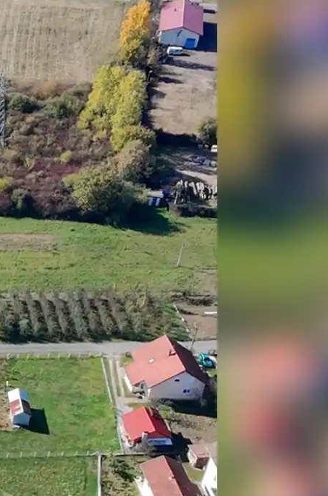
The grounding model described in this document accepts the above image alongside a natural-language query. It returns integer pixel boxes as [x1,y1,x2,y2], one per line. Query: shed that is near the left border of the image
[5,391,32,426]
